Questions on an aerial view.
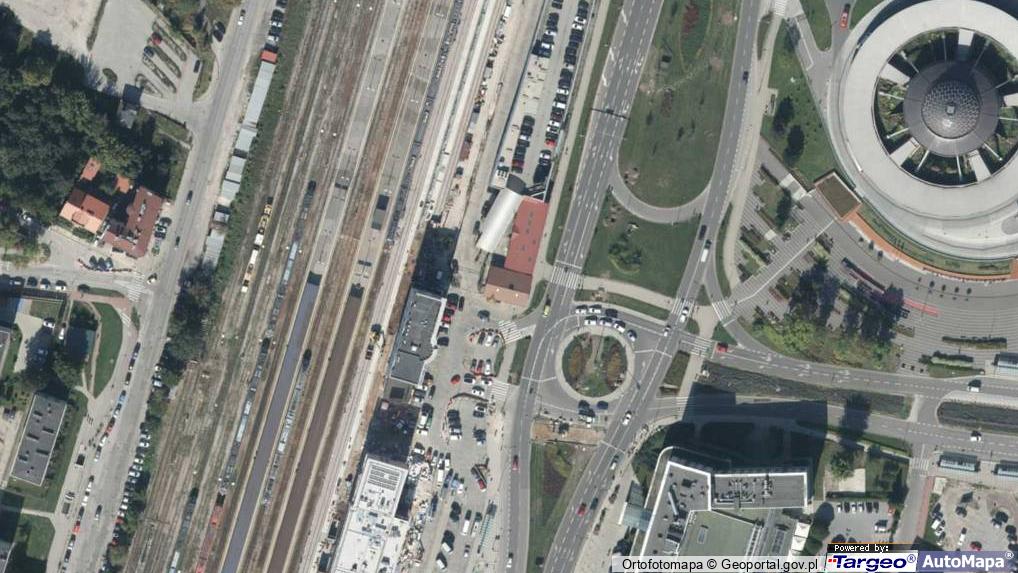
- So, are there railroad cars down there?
Yes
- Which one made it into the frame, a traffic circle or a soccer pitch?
traffic circle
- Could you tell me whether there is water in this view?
No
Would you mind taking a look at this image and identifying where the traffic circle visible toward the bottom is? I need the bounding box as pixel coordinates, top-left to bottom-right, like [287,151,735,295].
[557,326,633,404]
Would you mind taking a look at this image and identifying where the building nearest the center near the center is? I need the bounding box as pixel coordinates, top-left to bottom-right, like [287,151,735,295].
[482,267,533,308]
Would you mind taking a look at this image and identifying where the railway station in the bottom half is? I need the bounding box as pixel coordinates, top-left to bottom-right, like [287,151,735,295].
[383,288,446,407]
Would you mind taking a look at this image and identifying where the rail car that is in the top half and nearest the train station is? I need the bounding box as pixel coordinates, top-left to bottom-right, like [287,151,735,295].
[386,201,405,244]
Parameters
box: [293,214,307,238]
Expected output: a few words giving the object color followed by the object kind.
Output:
gray rail car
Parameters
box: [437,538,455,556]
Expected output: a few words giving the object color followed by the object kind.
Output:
white vehicle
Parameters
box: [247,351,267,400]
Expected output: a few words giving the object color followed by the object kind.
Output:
gray rail car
